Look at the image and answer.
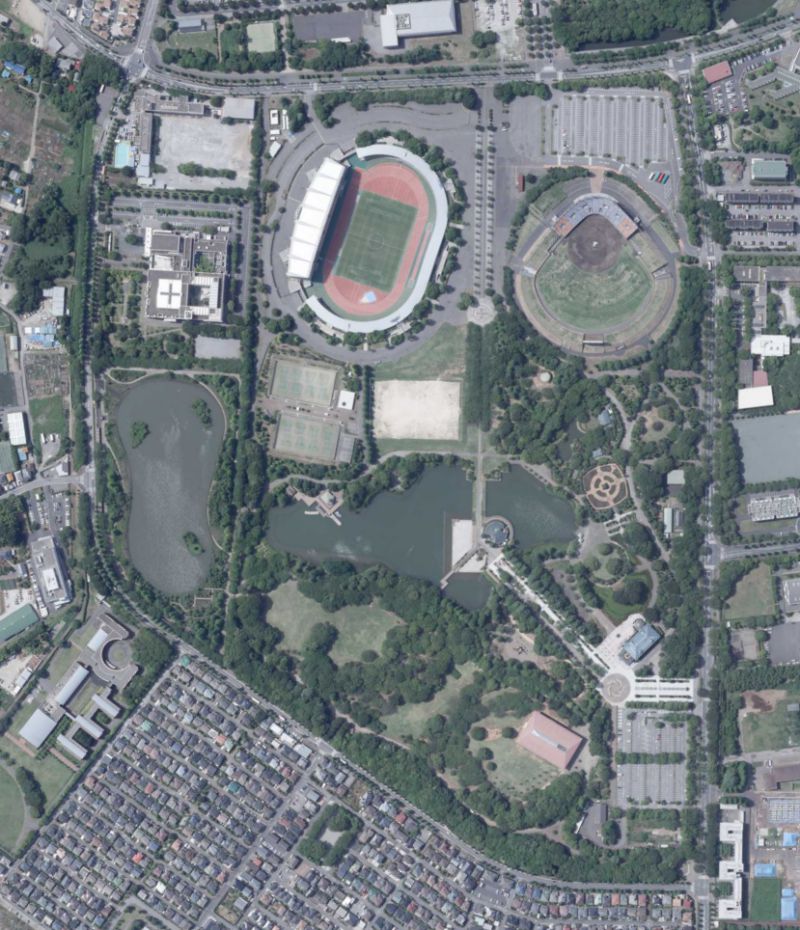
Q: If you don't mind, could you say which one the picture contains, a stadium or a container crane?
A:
stadium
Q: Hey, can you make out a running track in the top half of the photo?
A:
Yes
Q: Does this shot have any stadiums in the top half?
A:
Yes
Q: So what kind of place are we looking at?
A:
residential area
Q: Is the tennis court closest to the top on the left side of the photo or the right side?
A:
left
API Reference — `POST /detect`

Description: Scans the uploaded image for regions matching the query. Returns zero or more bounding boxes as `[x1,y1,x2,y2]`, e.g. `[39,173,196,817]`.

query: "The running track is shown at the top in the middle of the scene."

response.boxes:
[323,165,430,317]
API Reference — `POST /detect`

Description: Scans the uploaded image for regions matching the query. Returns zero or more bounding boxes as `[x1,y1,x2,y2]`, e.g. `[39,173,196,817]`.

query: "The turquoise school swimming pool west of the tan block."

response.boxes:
[113,141,132,167]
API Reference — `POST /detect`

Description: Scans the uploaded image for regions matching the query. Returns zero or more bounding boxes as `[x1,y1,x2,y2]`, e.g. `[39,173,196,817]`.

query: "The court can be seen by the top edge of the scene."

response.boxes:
[247,22,276,53]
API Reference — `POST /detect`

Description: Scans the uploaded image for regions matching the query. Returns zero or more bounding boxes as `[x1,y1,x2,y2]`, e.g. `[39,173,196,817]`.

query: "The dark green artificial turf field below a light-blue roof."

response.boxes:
[750,878,781,921]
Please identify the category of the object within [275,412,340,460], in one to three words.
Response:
tennis court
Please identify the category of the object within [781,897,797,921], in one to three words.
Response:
shed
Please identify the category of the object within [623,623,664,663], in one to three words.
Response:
building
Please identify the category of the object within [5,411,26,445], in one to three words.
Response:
building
